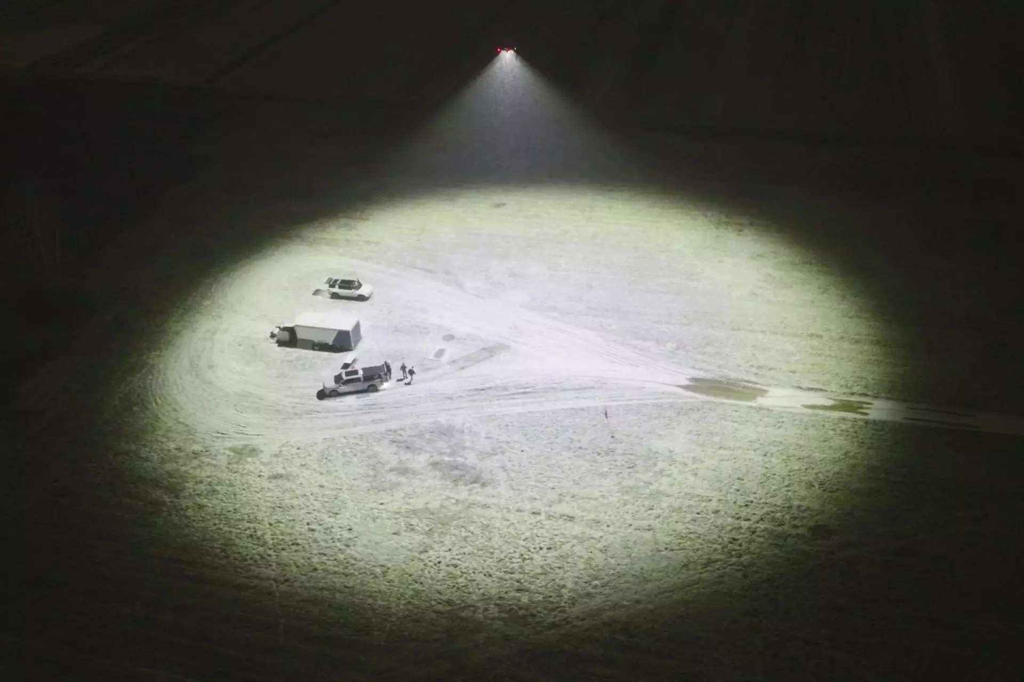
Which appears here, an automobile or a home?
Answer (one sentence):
There is an automobile in the scene.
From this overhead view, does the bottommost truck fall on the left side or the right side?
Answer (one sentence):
The bottommost truck appears in the left half of the scene.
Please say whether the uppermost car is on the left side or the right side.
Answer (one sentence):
The uppermost car appears in the left half of the scene.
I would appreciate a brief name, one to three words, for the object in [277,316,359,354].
trailer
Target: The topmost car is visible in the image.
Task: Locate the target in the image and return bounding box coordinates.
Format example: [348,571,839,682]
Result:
[323,274,375,302]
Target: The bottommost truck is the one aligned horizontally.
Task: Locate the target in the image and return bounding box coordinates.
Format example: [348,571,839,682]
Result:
[320,363,389,399]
